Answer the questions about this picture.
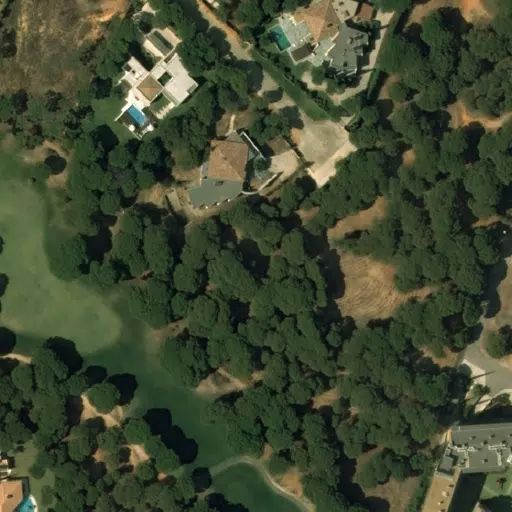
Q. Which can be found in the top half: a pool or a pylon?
pool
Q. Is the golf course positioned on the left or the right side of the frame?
left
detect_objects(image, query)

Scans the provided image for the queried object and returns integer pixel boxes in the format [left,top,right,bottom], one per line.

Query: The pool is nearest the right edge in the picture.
[268,24,290,51]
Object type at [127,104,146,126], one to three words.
swimming pool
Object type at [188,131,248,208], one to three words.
house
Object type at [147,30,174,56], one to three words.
building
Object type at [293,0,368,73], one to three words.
house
